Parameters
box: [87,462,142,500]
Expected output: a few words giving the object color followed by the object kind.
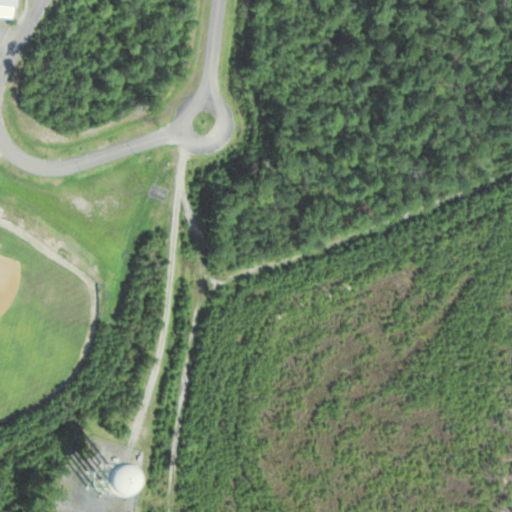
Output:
white water tower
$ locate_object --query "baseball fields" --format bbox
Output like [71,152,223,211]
[0,218,97,421]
